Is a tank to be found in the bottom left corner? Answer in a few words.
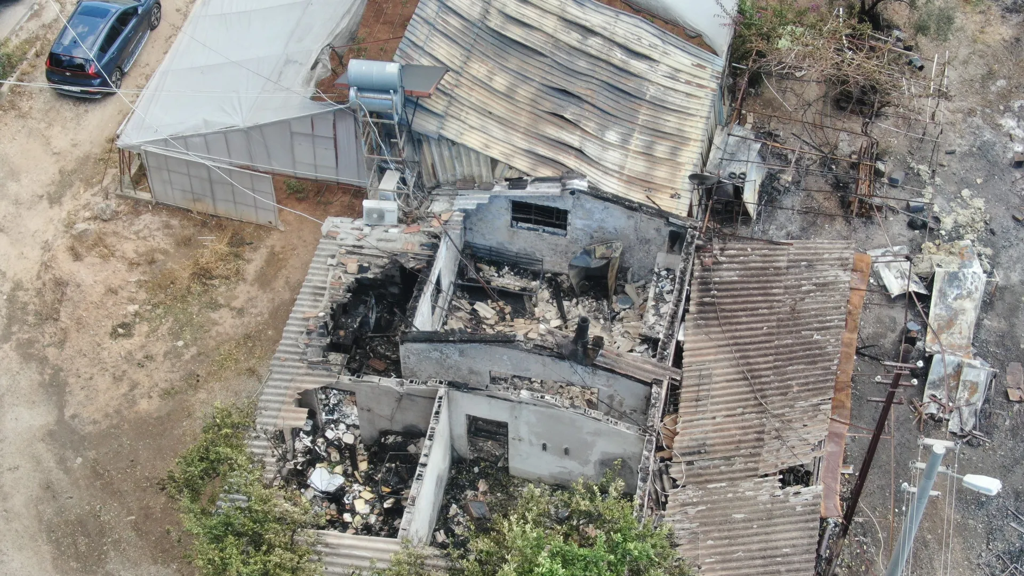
No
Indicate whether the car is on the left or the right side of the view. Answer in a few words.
left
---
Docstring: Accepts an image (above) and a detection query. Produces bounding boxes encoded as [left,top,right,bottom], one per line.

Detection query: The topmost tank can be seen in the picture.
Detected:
[346,60,402,93]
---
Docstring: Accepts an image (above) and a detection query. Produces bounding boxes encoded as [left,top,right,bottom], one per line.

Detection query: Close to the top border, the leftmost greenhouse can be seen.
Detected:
[100,0,401,229]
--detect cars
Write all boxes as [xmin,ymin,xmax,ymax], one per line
[43,0,163,100]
